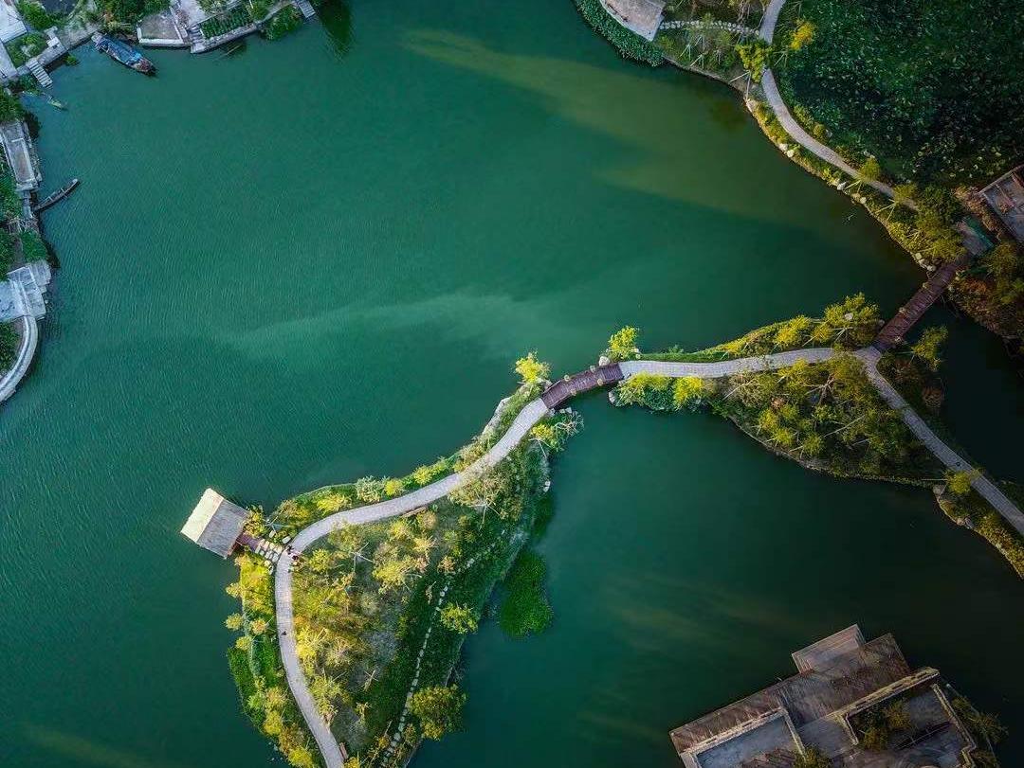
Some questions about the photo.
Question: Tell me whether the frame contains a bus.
No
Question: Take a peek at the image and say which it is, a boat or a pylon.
boat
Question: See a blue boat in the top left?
Yes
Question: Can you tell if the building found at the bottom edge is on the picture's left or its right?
right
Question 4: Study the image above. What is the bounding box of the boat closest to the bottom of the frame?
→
[33,178,77,207]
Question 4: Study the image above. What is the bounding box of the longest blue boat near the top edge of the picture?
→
[87,28,156,71]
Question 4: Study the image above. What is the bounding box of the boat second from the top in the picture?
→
[41,92,67,109]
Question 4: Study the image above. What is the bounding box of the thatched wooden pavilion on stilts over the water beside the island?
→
[182,489,251,556]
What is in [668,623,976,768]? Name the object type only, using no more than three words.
building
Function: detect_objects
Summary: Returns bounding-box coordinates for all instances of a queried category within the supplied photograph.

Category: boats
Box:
[33,178,77,207]
[87,28,156,71]
[41,92,67,109]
